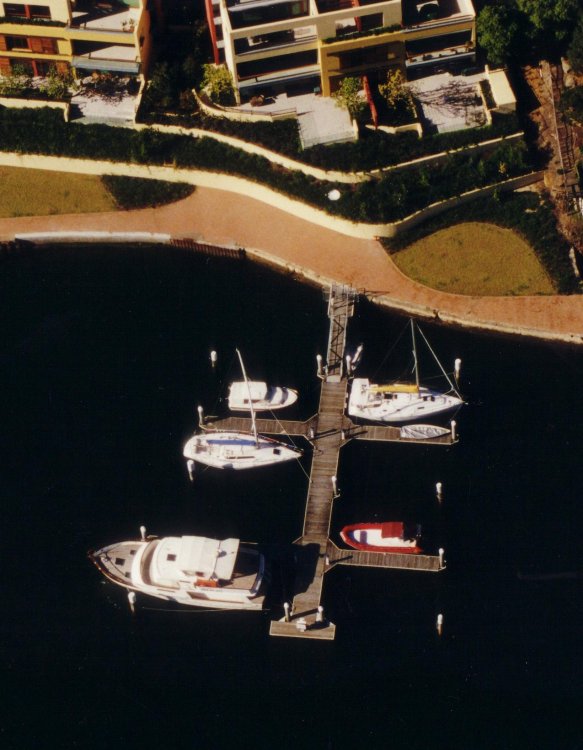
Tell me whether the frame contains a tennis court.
No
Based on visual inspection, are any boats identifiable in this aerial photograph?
Yes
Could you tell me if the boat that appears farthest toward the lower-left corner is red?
No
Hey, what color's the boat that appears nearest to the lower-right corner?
red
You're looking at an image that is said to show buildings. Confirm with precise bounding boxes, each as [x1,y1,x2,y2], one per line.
[199,0,478,111]
[0,0,169,91]
[485,70,516,125]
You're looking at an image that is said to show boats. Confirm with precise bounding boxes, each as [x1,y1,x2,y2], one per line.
[186,354,305,476]
[226,385,300,414]
[398,426,450,439]
[87,528,270,606]
[350,320,466,423]
[339,520,430,553]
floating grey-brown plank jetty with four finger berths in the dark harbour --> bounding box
[157,375,455,640]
